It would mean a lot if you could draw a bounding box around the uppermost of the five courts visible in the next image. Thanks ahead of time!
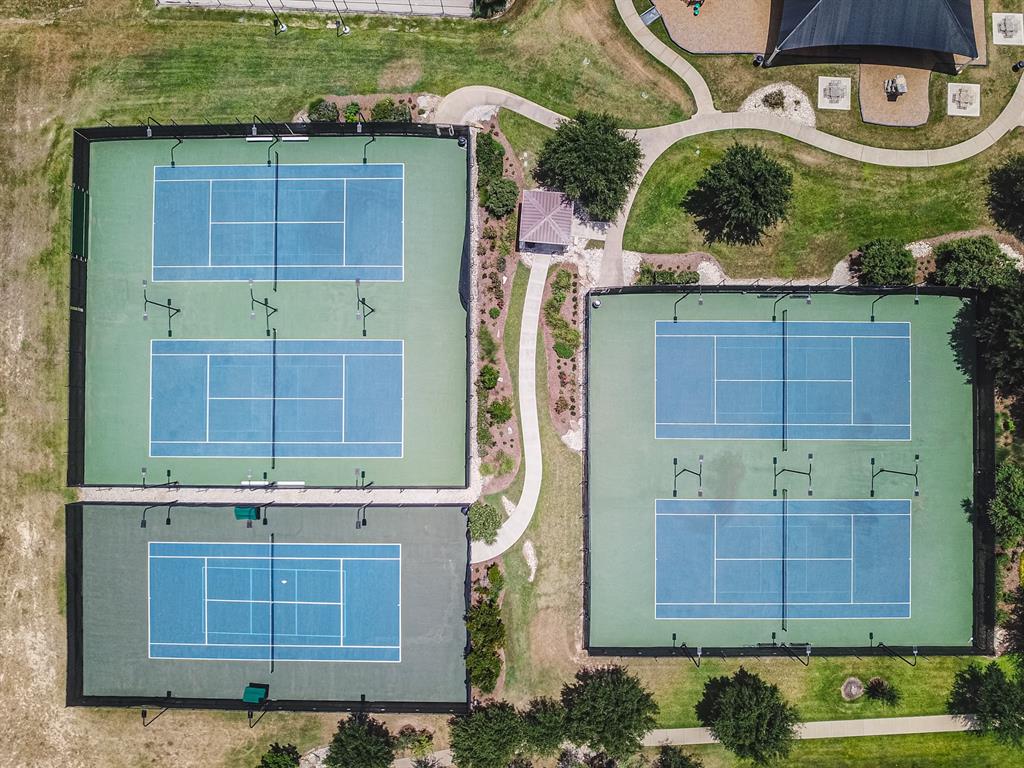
[152,163,404,281]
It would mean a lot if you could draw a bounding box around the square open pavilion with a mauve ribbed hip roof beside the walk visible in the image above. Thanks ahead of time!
[518,189,575,252]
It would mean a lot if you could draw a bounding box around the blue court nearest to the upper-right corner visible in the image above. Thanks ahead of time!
[655,321,912,440]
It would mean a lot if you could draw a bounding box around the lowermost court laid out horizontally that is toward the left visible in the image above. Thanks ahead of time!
[148,542,401,663]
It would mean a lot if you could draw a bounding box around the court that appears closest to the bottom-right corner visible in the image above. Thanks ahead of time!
[655,500,912,619]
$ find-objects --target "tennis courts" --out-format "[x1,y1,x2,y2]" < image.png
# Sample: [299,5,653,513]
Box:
[655,500,912,619]
[149,340,404,458]
[148,542,401,663]
[152,163,404,281]
[655,321,912,440]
